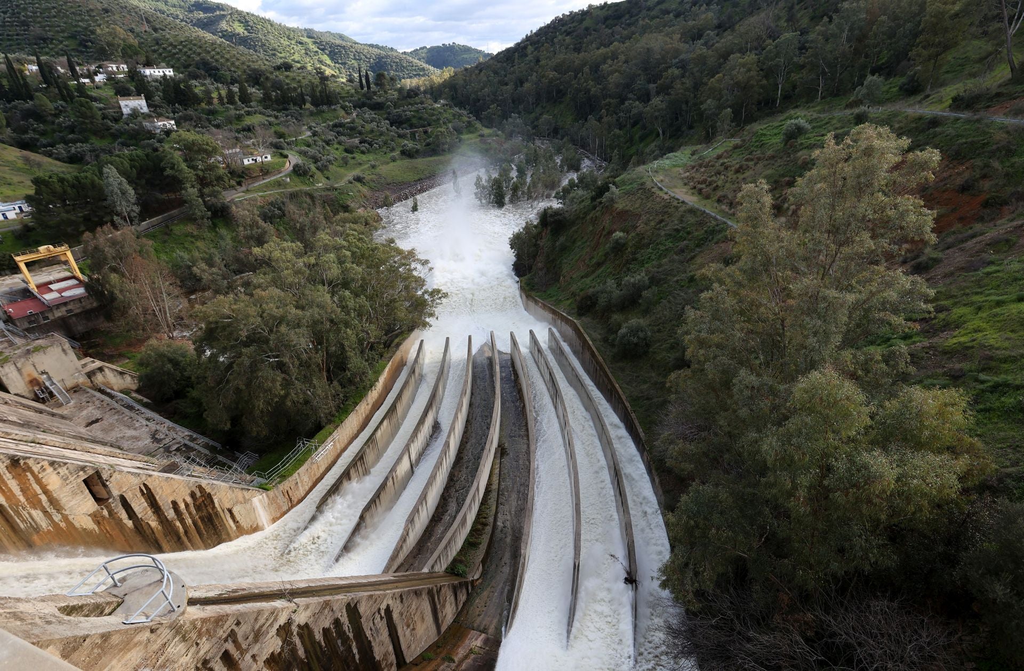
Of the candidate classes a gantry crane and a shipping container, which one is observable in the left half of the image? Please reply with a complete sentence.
The feature located in the left half of the image is a gantry crane.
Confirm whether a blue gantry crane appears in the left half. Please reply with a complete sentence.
No, there is no blue gantry crane in the left half.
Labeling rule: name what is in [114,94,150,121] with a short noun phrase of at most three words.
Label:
house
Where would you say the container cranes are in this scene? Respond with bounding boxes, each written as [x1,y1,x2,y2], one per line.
[9,242,85,295]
